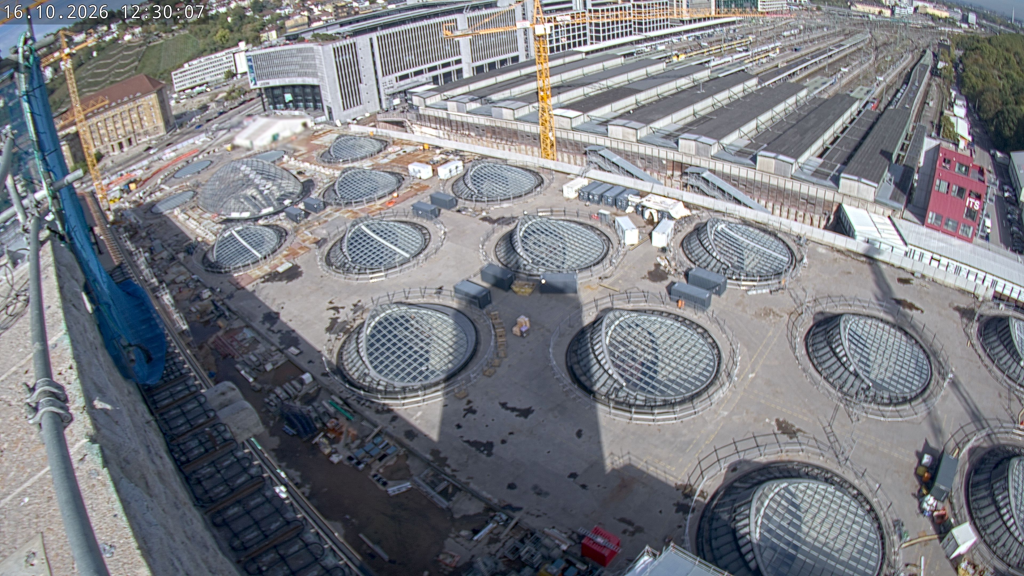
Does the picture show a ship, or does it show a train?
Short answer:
train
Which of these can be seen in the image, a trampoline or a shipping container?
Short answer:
shipping container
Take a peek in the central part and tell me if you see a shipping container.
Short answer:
Yes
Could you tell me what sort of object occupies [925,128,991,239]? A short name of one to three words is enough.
building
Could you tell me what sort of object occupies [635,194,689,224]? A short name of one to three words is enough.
tent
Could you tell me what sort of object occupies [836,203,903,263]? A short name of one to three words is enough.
building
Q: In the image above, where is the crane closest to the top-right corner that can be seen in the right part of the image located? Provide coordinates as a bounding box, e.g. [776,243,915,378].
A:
[451,0,794,160]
